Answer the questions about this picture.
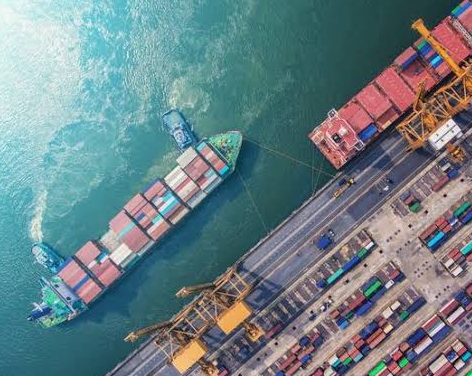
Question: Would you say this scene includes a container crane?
Yes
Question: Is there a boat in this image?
Yes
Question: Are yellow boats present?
No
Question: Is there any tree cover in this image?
No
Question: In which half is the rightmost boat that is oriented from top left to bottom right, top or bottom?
top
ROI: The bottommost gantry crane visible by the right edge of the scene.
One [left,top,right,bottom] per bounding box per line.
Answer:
[395,79,467,162]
